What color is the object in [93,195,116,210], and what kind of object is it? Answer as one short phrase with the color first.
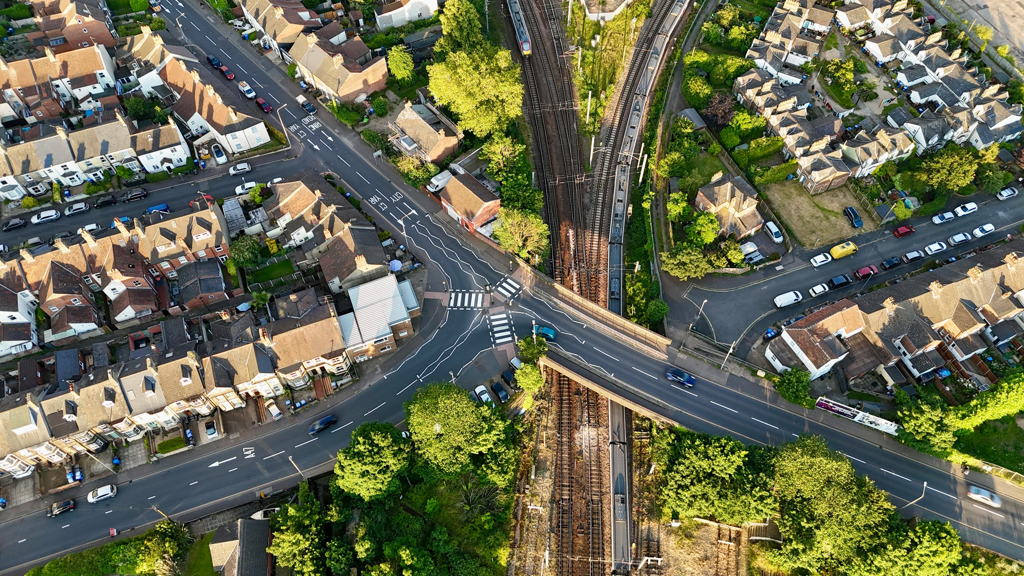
black car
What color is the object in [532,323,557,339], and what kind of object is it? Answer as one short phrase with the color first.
blue car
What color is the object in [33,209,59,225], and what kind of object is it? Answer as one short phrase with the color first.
white car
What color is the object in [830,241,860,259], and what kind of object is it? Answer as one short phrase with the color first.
yellow vehicle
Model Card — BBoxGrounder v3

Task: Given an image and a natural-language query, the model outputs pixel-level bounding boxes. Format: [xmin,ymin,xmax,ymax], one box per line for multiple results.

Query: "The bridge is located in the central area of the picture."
[505,250,692,433]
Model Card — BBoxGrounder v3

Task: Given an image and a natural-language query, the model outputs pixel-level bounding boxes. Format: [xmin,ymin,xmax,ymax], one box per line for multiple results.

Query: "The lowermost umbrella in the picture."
[236,301,251,314]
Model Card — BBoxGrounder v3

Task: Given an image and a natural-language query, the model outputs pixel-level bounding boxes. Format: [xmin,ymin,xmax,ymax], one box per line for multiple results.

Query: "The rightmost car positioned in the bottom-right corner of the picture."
[968,487,1001,508]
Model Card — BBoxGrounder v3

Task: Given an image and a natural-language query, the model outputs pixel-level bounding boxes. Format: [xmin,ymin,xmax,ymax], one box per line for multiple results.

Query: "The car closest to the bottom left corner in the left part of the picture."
[47,497,76,518]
